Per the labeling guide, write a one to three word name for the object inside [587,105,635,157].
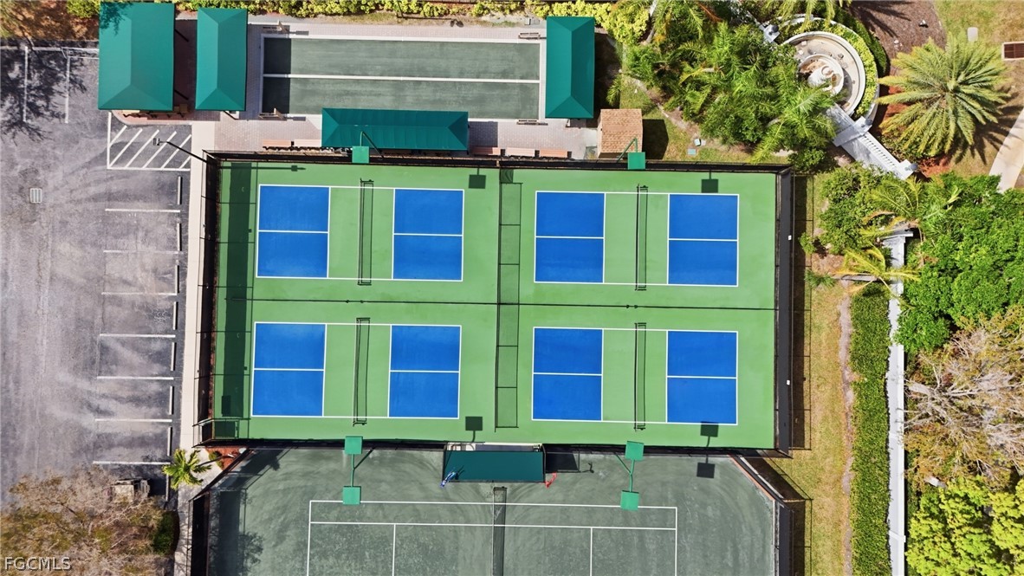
shed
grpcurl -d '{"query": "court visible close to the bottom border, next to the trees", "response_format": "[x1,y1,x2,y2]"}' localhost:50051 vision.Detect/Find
[208,449,775,576]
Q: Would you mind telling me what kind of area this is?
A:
sports ground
